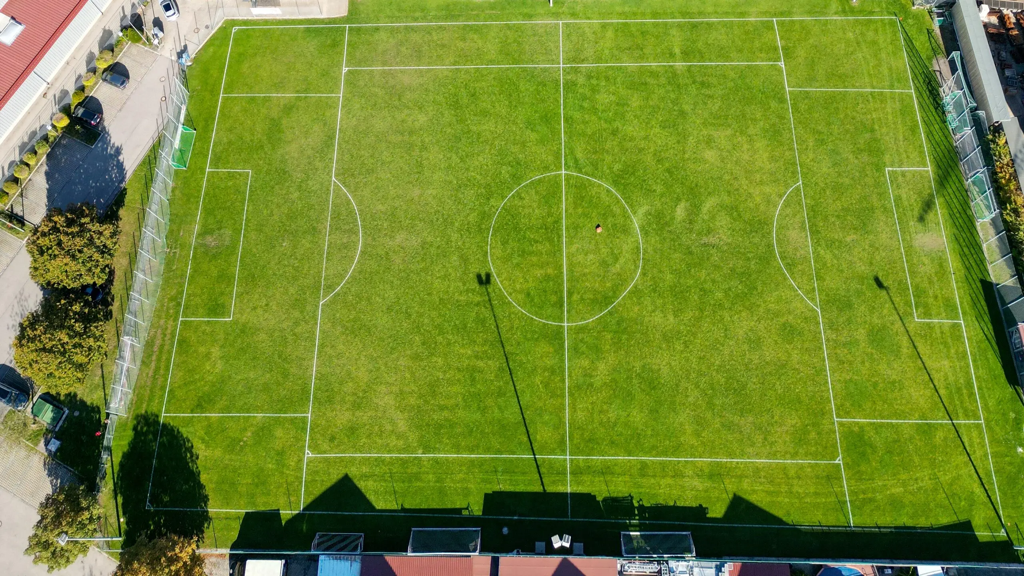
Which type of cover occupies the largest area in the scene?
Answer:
grass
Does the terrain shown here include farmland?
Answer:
No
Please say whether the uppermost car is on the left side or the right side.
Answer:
left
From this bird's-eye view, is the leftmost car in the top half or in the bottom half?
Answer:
bottom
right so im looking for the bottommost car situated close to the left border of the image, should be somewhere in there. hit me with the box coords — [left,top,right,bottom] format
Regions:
[0,379,33,407]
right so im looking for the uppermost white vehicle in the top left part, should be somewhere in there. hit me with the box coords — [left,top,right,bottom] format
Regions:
[156,0,179,24]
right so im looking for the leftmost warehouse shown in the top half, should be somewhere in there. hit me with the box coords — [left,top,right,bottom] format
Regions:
[0,0,116,146]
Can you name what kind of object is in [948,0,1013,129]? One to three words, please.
shed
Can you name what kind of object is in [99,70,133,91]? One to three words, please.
car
